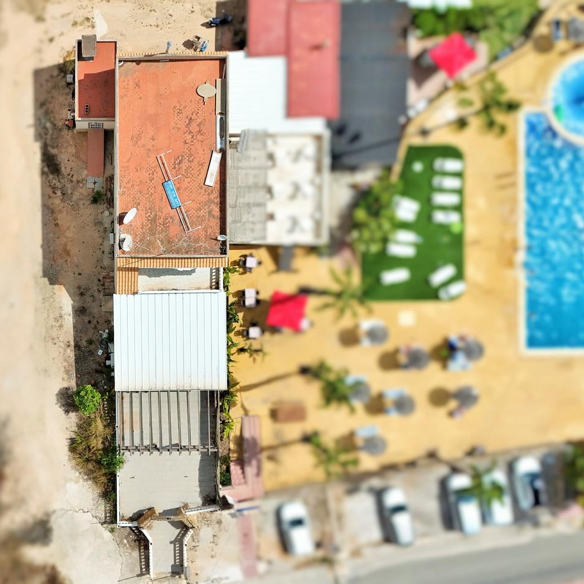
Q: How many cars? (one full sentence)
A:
Altogether the scene contains 5 cars.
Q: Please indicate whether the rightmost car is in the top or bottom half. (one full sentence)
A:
The rightmost car sits in the bottom half of the picture.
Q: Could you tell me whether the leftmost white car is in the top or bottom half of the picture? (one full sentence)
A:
The bottom half of the photo is where the leftmost white car is.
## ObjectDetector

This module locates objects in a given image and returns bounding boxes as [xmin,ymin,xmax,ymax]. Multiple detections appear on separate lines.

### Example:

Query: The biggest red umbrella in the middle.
[267,292,308,332]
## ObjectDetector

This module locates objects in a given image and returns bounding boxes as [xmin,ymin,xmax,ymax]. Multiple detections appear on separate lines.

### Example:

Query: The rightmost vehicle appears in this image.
[509,453,544,509]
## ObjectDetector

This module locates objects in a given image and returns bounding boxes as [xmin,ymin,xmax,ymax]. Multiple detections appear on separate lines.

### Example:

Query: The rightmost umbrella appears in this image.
[565,18,584,47]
